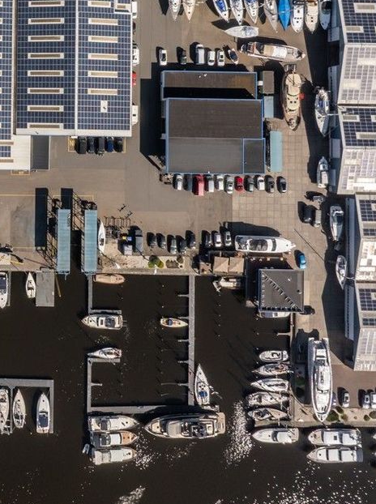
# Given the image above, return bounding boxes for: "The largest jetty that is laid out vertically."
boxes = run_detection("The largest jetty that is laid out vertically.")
[177,275,195,405]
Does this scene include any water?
Yes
